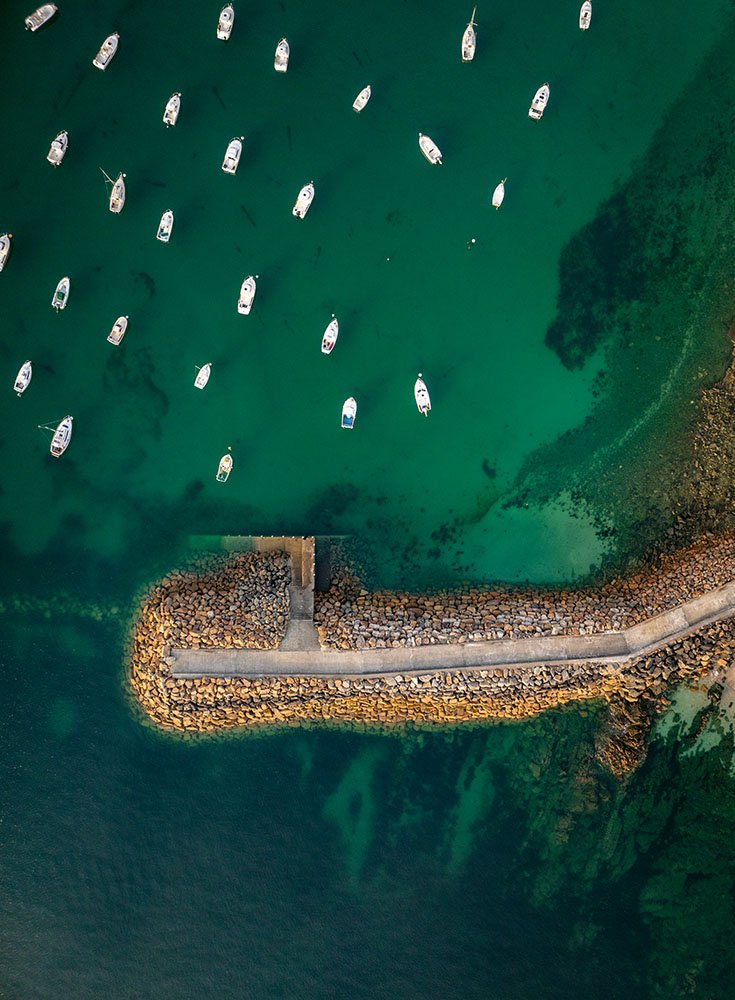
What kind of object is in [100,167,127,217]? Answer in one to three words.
boat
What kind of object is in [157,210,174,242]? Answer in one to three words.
boat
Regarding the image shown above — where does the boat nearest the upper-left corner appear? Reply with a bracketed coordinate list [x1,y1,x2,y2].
[26,7,60,35]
